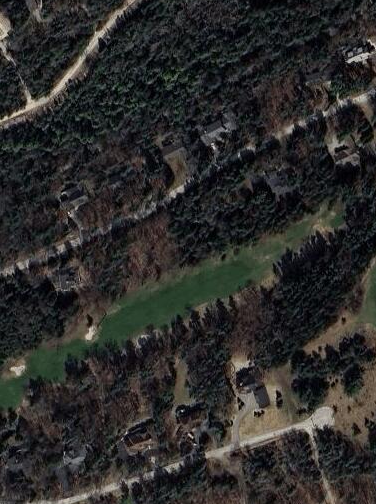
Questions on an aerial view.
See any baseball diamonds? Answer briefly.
No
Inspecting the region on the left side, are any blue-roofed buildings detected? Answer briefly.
No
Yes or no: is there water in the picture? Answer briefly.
No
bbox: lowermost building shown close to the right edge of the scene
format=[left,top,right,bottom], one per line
[333,147,361,168]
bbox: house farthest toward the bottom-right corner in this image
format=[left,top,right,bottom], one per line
[234,370,272,407]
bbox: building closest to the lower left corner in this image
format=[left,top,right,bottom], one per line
[61,443,89,470]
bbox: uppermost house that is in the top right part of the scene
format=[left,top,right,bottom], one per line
[346,40,376,60]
